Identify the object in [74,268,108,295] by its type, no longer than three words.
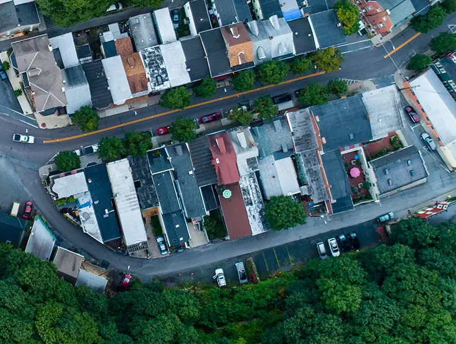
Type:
shed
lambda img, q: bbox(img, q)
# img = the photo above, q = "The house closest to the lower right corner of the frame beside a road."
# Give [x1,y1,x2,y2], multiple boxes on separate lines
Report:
[413,198,456,228]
